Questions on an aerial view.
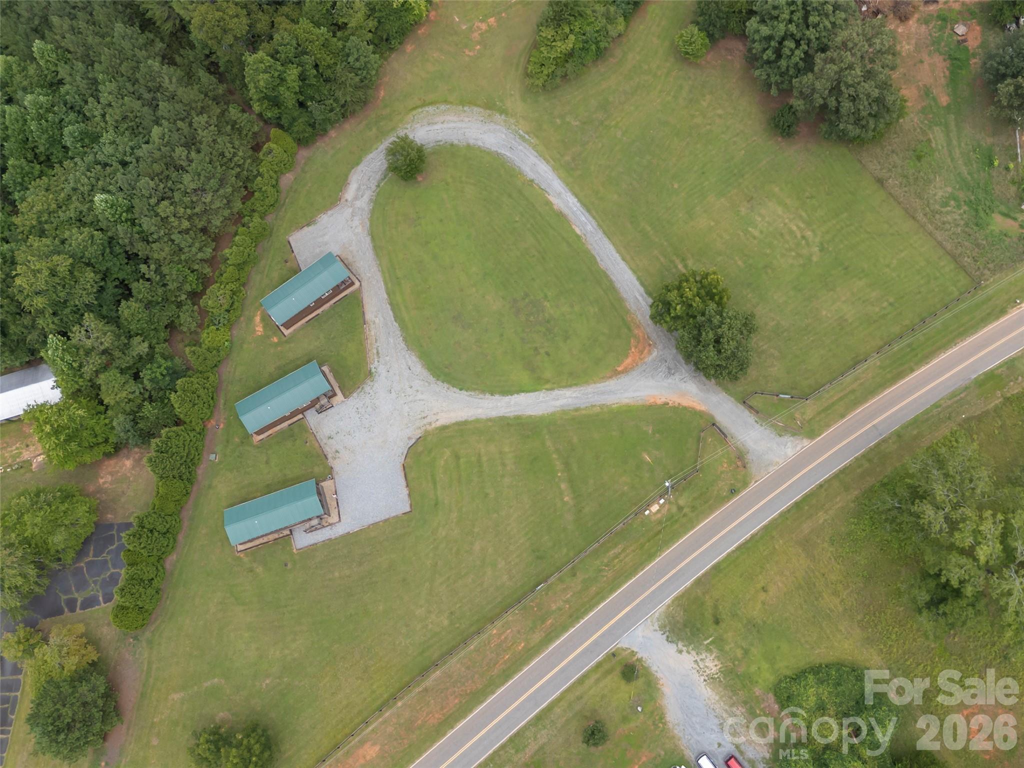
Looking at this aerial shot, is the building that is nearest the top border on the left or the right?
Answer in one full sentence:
It is on the left.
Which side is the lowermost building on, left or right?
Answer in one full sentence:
It is on the left.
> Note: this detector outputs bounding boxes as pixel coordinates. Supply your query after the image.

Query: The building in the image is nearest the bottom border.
[225,479,327,546]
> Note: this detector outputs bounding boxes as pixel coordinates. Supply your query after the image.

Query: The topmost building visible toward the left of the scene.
[262,252,352,329]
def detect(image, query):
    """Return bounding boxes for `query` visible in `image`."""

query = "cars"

[725,751,749,768]
[696,751,720,768]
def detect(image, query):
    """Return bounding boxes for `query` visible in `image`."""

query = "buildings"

[262,252,352,329]
[237,361,335,435]
[0,364,71,419]
[225,479,327,546]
